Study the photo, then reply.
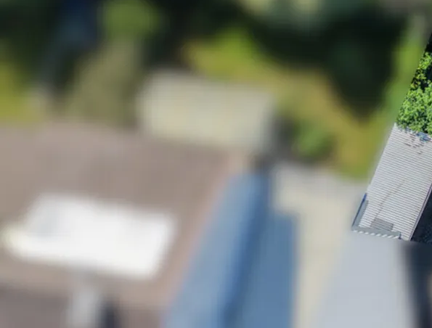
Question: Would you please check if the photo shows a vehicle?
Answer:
No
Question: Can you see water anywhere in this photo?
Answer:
No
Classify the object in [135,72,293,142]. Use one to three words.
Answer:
shed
